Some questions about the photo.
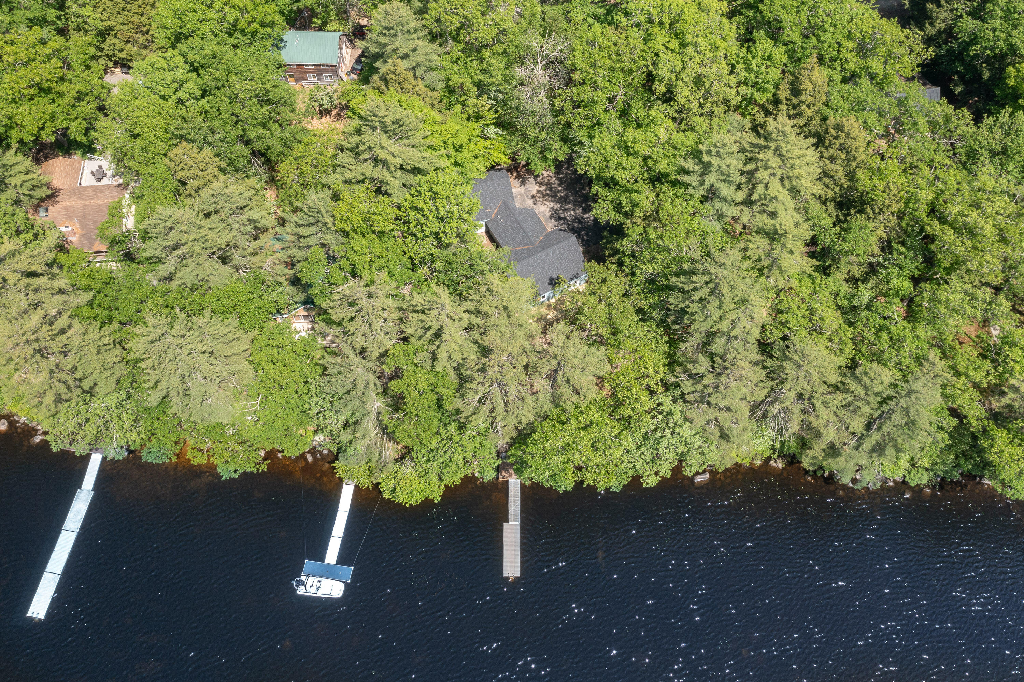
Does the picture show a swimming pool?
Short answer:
No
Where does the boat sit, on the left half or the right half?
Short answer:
left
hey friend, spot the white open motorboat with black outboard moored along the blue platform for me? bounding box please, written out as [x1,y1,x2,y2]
[291,576,346,598]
